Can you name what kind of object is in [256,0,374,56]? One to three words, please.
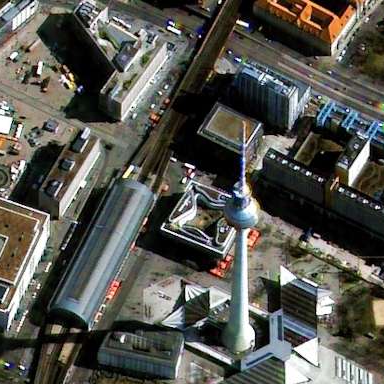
building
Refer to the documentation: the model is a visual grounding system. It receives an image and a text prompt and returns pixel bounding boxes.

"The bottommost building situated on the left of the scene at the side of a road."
[98,316,186,376]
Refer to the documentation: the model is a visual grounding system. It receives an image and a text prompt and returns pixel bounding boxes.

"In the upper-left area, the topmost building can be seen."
[0,0,44,30]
